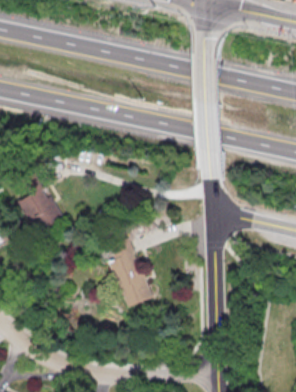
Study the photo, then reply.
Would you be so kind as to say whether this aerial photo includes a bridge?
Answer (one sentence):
Yes, you can see a bridge in this photo.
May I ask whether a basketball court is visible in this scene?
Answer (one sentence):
No, there's no basketball court here.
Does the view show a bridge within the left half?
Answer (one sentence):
No, I can find no bridge within the left half.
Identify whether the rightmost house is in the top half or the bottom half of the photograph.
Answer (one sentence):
The rightmost house sits in the bottom half of the picture.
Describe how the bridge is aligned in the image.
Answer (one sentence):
I'd say the bridge is aligned from top to bottom in the picture.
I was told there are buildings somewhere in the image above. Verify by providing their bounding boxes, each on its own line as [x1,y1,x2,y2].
[18,179,64,226]
[112,236,156,306]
